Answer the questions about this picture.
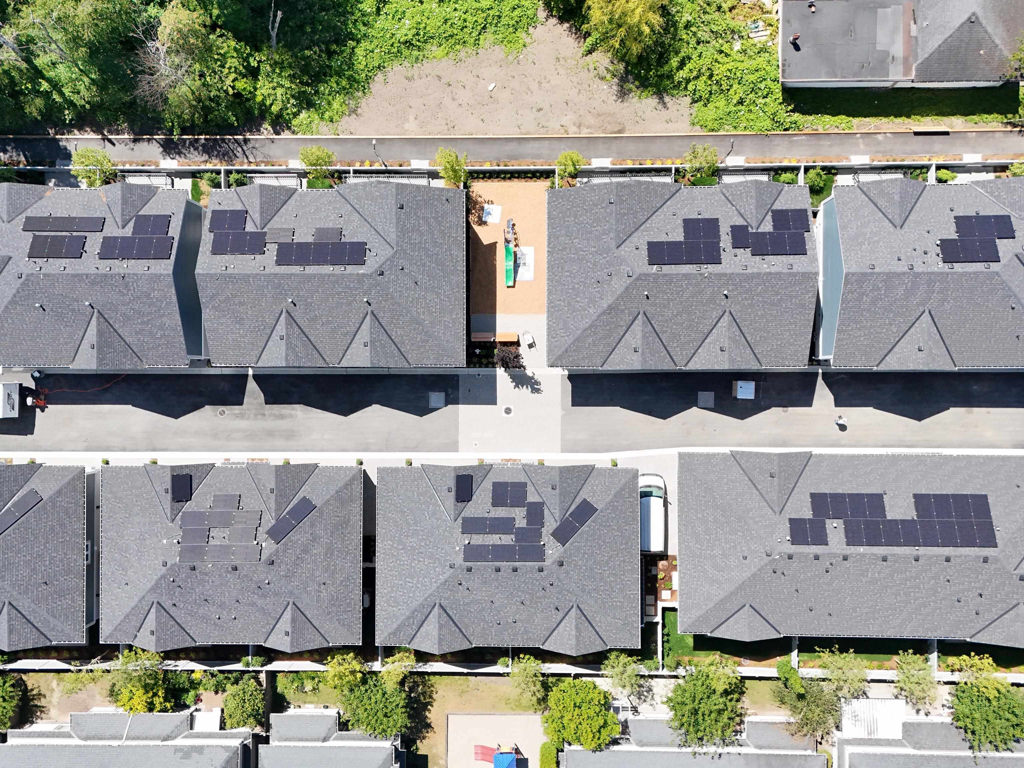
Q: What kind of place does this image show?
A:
residential area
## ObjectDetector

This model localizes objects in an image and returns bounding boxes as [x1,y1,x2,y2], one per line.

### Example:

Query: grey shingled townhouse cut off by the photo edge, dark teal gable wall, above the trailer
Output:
[0,174,209,366]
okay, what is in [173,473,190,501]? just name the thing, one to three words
solar panel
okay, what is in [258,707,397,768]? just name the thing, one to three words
house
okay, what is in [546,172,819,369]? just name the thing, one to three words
house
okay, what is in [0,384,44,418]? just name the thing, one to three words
trailer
